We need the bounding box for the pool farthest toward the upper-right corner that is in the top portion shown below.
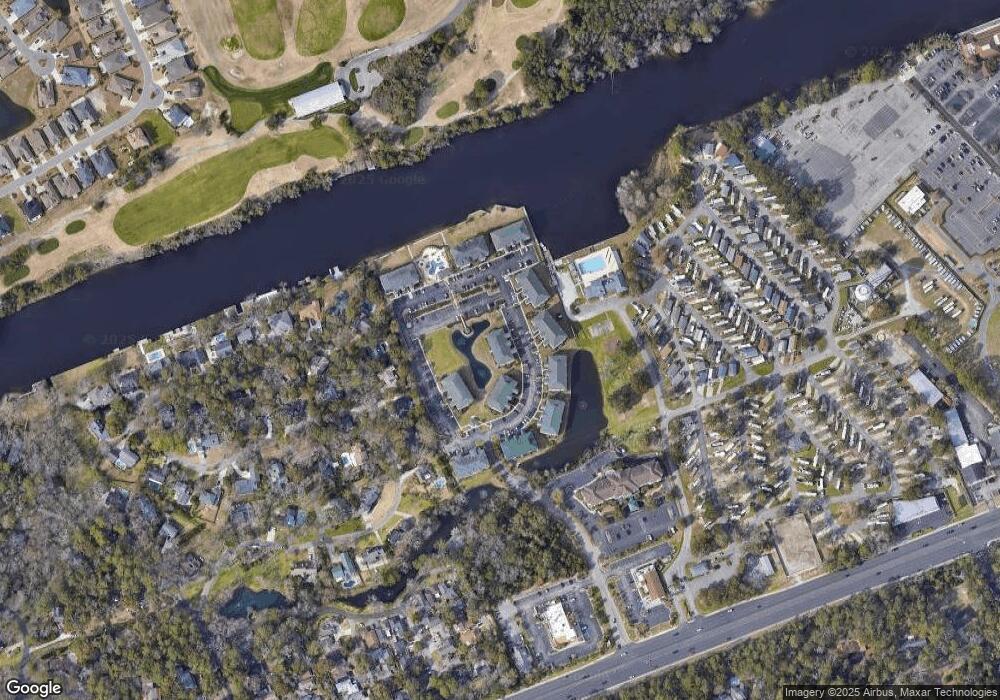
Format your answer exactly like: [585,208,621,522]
[574,247,619,284]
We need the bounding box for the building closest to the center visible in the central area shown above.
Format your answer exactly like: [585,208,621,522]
[483,328,519,369]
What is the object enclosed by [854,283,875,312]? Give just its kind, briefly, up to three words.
water tower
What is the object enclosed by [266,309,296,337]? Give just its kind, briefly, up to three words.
house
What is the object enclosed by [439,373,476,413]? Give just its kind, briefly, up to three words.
building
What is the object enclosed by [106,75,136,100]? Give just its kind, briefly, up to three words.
house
